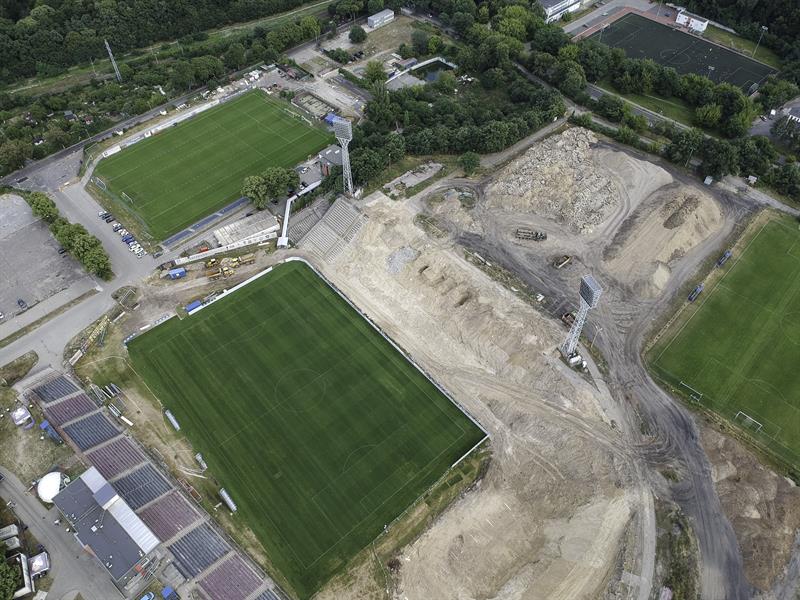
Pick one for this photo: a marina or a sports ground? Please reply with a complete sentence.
The area seen from above is a sports ground.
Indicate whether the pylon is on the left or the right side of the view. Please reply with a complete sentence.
The pylon sits on the left side.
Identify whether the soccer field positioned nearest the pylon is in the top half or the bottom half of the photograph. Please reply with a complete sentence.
The top half of the photo is where the soccer field positioned nearest the pylon is.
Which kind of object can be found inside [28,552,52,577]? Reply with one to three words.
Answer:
tent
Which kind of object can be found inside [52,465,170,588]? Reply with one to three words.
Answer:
building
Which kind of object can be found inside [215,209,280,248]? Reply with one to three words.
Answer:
shed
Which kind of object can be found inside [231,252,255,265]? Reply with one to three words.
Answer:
vehicle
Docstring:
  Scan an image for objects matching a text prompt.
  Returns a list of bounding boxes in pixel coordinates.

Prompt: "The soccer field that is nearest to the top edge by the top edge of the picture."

[573,12,778,108]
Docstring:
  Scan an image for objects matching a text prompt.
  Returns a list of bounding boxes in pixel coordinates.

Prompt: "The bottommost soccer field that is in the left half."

[126,260,486,600]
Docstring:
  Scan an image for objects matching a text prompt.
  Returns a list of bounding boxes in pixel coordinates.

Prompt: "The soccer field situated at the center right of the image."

[649,216,800,474]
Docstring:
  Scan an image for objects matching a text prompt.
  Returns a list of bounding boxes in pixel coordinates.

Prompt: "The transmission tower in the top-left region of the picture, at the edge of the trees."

[102,40,122,82]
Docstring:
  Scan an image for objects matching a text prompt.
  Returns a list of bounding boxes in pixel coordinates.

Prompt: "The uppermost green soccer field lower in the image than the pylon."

[97,88,334,241]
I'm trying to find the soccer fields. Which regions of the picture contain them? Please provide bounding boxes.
[97,88,334,241]
[573,12,778,108]
[126,260,486,600]
[649,216,800,474]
